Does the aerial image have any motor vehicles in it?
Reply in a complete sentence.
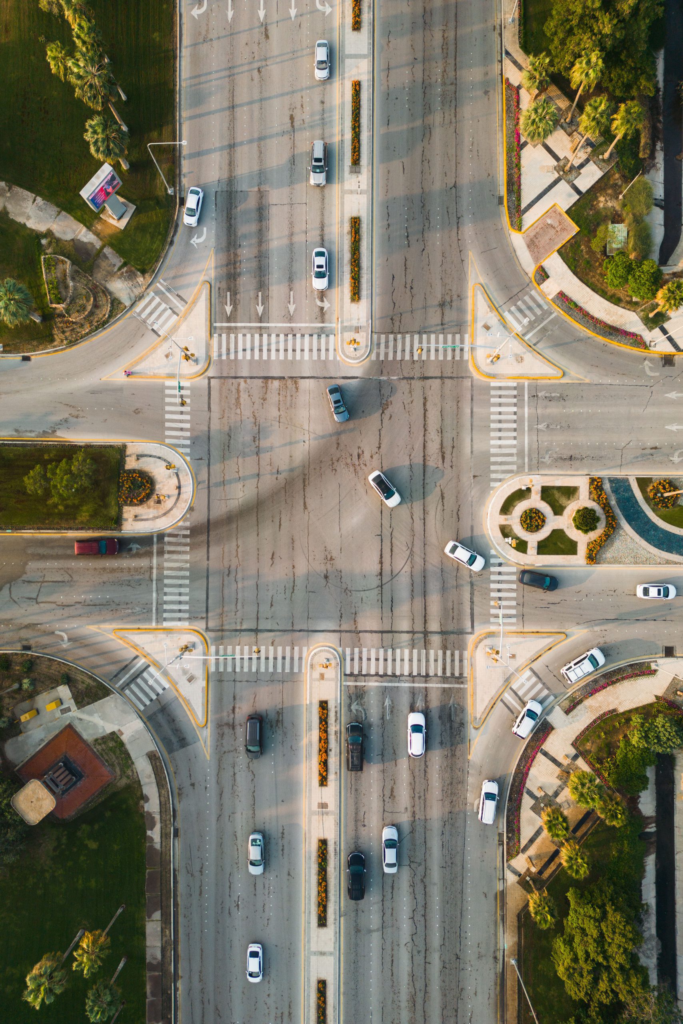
Yes, a motor vehicle can be made out from above.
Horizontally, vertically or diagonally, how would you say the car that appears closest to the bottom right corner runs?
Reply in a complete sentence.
The car that appears closest to the bottom right corner has been laid out vertically relative to the frame.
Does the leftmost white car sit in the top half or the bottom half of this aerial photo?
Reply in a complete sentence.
Seen from above, the leftmost white car lies in the top half of the view.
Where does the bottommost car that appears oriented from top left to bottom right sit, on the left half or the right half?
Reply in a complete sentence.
The bottommost car that appears oriented from top left to bottom right appears in the right half of the scene.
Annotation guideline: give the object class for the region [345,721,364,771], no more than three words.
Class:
vehicle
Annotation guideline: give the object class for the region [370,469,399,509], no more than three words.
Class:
car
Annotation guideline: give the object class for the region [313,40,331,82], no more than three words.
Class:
car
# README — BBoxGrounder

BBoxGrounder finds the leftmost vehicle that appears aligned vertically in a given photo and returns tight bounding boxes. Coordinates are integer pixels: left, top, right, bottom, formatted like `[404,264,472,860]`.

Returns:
[183,187,204,228]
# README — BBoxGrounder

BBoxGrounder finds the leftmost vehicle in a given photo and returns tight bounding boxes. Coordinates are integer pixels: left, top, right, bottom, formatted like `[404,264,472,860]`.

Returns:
[75,537,120,556]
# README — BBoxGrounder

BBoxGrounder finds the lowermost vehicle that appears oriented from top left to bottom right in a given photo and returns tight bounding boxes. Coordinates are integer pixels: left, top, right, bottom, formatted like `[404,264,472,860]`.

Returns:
[445,541,483,570]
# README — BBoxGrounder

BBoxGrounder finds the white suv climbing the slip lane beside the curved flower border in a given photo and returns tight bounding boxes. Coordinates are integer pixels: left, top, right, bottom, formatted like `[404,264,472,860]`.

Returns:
[478,780,500,824]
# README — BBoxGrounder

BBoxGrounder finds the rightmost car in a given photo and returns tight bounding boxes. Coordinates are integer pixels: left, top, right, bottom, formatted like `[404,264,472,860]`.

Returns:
[635,583,676,601]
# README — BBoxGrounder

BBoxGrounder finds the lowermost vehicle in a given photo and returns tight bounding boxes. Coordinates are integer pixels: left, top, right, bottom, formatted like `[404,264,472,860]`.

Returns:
[245,943,264,982]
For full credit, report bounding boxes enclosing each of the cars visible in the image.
[512,700,541,739]
[309,140,328,187]
[445,541,483,570]
[313,40,331,82]
[635,583,676,601]
[381,825,400,872]
[346,852,366,901]
[244,714,263,758]
[245,943,264,982]
[561,649,603,682]
[247,832,265,873]
[183,187,204,228]
[370,469,399,509]
[75,537,120,556]
[311,248,330,291]
[478,780,500,824]
[518,570,559,591]
[326,383,350,424]
[407,713,426,756]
